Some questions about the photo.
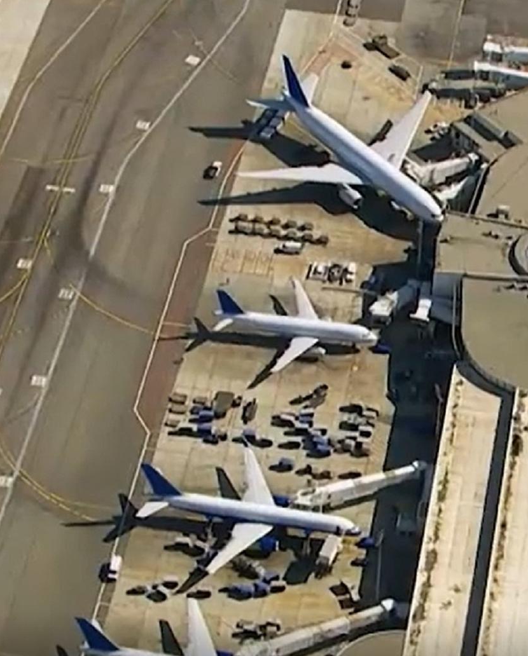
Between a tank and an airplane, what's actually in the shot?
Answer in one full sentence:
There is an airplane in the scene.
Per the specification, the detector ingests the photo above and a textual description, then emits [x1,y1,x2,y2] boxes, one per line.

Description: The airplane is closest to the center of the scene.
[201,277,377,370]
